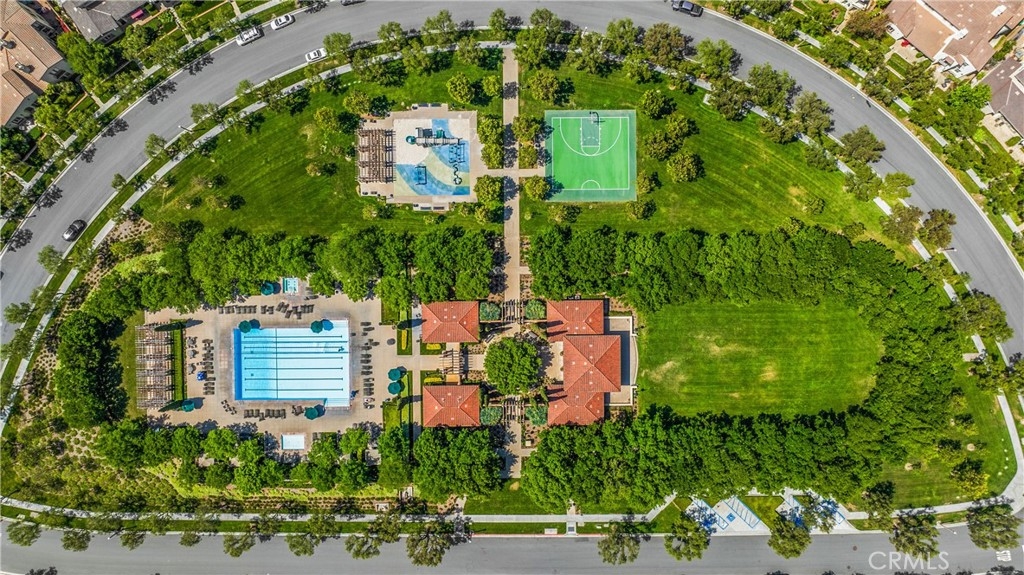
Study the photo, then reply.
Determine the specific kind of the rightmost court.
basketball court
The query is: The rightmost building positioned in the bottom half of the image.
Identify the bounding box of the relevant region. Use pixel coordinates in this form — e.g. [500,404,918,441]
[547,294,639,426]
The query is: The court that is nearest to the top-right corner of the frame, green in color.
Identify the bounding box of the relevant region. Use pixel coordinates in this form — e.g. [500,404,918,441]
[546,110,636,201]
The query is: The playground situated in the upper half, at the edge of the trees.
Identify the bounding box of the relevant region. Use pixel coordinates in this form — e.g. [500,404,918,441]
[360,104,477,211]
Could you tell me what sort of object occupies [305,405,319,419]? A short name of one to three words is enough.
umbrella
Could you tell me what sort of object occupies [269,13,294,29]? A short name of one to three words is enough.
car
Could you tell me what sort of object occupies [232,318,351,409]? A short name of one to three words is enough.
swimming pool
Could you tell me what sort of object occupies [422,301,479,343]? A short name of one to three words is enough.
building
